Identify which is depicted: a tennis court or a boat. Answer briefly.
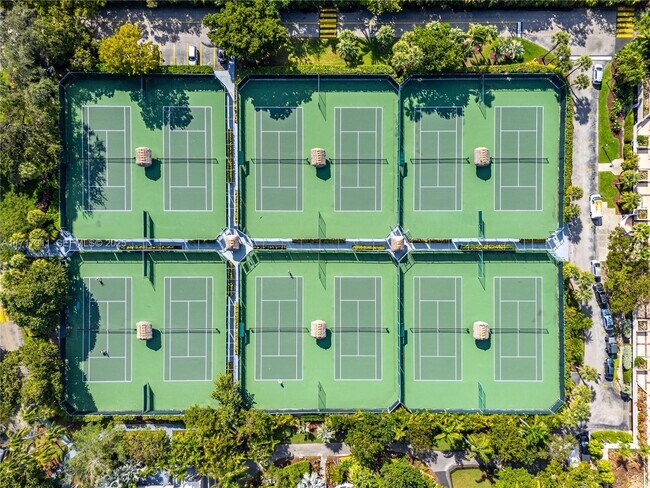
tennis court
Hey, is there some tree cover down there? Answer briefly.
Yes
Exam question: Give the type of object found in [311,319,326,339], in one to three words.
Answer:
gazebo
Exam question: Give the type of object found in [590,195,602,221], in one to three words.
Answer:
vehicle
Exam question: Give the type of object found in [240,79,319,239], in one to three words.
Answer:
tennis court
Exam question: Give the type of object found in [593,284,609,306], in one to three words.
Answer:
car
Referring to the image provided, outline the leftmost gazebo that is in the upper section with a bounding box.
[137,148,154,168]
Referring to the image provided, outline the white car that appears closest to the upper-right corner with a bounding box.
[592,64,604,86]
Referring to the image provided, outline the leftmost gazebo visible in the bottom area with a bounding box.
[138,320,155,340]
